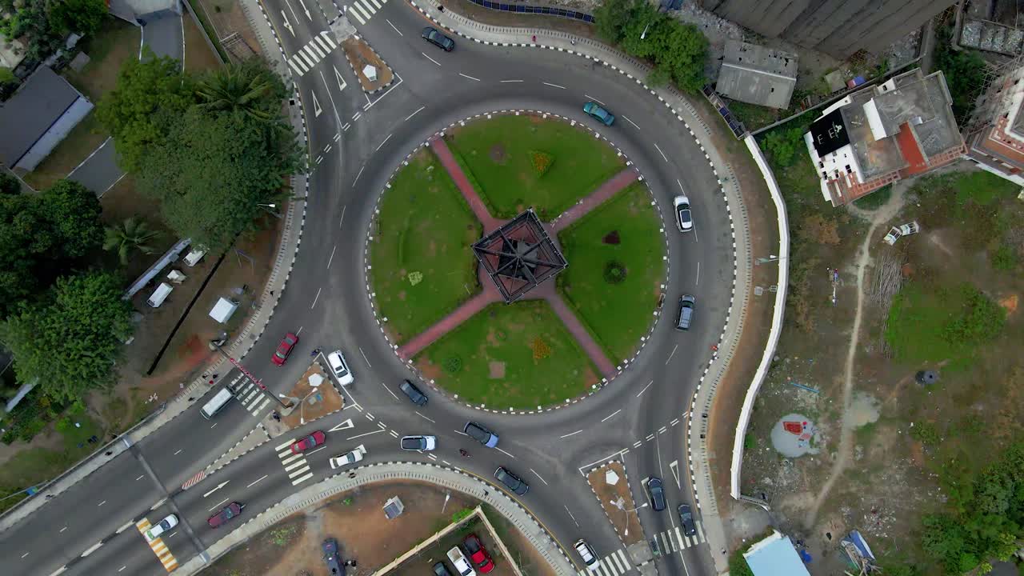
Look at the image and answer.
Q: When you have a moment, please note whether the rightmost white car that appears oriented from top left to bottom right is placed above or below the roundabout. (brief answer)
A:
below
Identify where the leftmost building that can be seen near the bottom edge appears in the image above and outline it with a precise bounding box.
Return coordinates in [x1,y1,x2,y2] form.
[737,527,811,576]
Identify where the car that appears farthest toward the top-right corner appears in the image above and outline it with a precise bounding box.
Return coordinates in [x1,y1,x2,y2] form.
[672,195,692,232]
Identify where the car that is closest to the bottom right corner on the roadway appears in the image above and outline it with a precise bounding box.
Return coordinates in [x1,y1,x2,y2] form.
[676,503,696,539]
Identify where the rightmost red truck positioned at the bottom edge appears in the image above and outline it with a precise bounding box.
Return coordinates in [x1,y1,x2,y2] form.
[463,532,495,575]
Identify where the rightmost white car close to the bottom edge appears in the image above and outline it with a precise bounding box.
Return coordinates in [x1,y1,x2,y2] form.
[573,538,601,573]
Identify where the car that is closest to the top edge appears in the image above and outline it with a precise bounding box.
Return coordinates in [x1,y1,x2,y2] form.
[420,24,457,53]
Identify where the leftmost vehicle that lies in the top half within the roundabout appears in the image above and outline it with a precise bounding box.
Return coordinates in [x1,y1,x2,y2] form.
[581,100,617,128]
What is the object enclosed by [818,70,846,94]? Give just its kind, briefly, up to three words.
shed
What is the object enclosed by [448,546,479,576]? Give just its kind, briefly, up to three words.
truck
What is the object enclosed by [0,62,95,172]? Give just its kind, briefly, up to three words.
building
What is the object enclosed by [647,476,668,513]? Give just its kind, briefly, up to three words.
car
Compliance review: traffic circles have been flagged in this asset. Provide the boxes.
[320,65,714,459]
